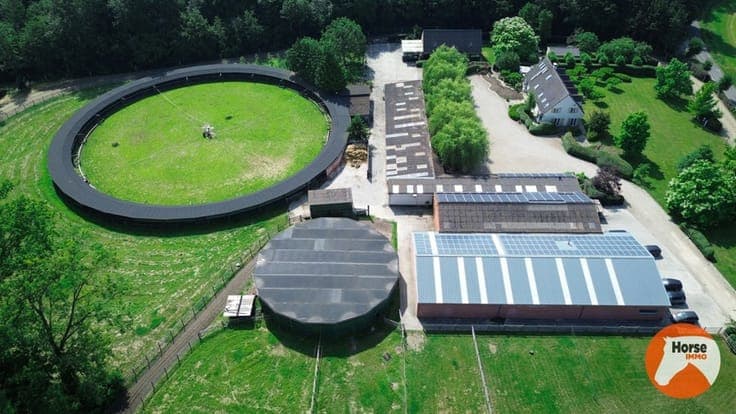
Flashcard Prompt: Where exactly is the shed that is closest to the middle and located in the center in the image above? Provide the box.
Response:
[308,187,353,213]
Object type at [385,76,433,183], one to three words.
building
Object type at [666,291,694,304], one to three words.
vehicle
